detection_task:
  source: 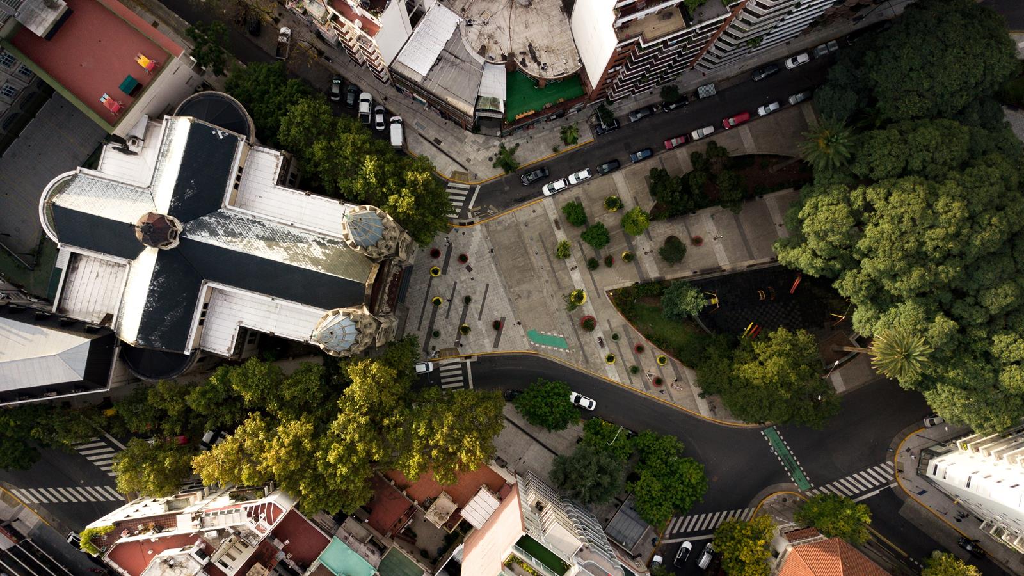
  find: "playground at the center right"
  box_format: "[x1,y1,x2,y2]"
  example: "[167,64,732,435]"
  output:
[692,264,889,350]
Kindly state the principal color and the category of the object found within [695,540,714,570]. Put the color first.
gray car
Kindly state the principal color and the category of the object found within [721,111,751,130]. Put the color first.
red car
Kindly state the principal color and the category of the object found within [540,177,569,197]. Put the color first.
white car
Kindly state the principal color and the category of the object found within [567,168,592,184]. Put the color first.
white car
